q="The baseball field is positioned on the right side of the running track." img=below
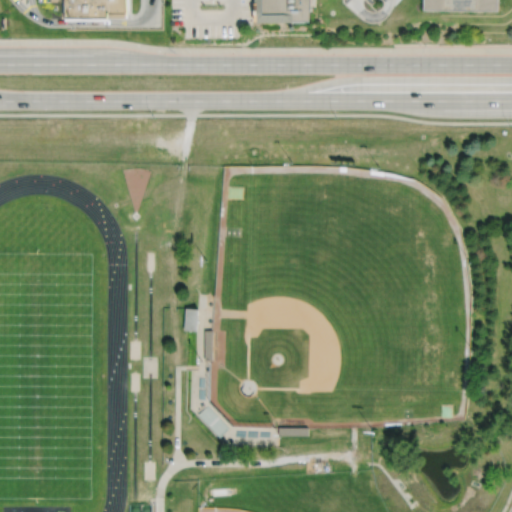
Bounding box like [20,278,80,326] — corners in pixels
[212,166,472,428]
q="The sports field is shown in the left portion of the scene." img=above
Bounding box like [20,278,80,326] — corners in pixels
[0,250,94,502]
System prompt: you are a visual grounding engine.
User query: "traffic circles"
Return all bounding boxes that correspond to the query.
[343,0,402,24]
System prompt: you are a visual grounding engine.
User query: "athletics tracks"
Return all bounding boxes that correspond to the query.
[0,176,127,512]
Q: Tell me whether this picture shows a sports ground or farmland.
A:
sports ground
